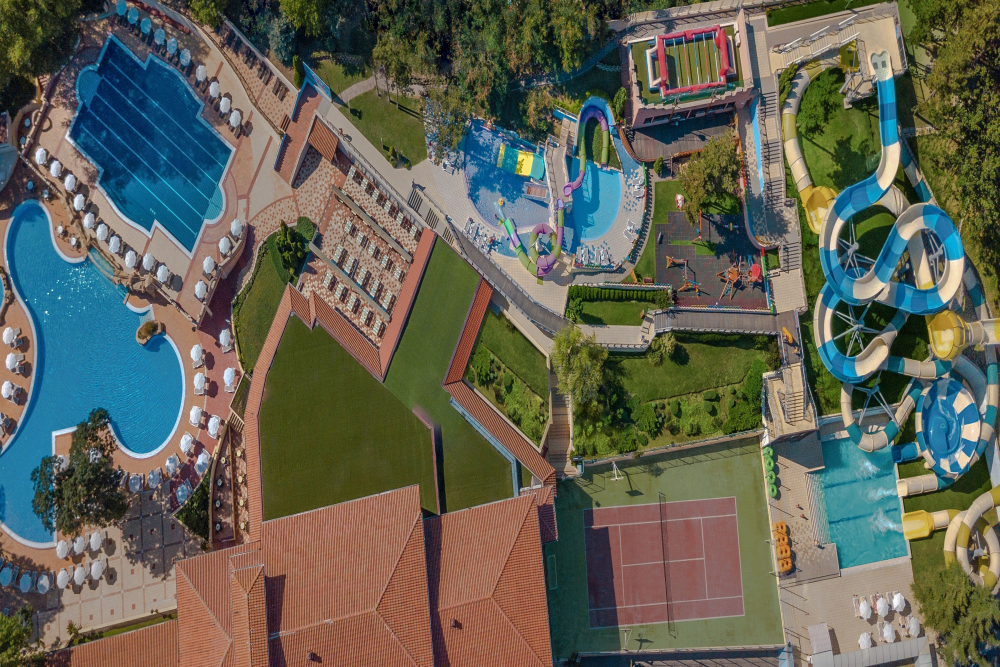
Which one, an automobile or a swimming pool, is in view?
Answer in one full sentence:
There is a swimming pool in the scene.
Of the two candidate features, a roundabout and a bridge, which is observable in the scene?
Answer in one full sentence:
Of the two, only a bridge appears.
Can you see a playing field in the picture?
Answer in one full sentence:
Yes, a playing field is visible in the scene.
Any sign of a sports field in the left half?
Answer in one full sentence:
No, no sports field can be made out in the left half.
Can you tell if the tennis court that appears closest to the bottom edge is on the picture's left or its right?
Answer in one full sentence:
You can find the tennis court that appears closest to the bottom edge on the right side of the picture.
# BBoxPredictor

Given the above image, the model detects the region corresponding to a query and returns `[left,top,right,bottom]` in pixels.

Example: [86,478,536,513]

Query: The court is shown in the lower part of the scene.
[553,441,782,656]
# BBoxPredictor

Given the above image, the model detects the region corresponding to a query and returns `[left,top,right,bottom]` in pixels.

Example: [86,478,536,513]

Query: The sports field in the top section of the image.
[643,24,746,104]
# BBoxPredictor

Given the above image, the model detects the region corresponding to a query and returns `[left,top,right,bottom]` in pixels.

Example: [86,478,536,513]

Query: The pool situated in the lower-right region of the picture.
[818,434,911,569]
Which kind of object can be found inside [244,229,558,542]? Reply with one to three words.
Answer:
building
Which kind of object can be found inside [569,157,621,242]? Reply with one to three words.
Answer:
swimming pool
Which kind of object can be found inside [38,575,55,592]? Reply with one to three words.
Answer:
umbrella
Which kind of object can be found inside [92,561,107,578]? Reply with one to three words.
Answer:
umbrella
